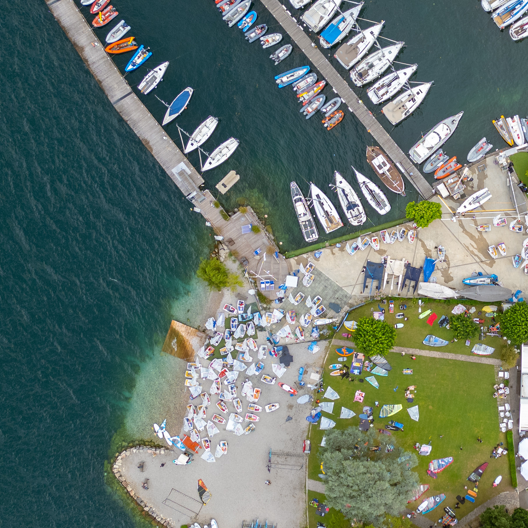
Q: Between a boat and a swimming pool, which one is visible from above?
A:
boat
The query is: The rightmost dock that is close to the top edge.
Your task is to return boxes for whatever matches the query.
[261,0,435,198]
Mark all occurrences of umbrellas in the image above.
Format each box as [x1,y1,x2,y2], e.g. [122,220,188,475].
[518,437,528,459]
[519,459,528,481]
